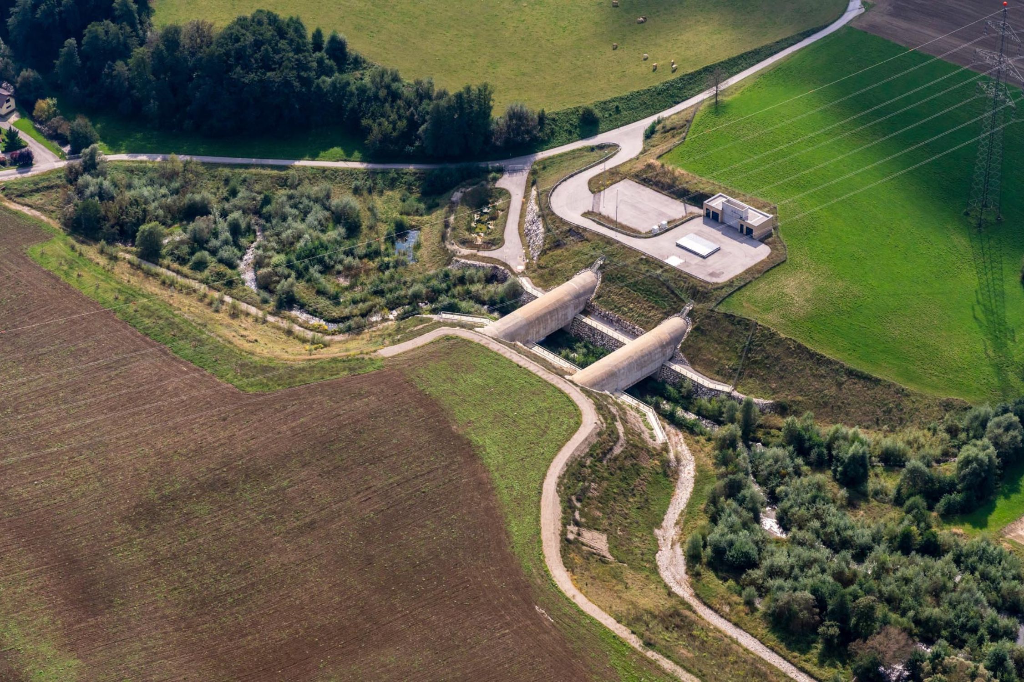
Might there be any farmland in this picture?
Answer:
Yes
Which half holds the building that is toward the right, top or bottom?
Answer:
top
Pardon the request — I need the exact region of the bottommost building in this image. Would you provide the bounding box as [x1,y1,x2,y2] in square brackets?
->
[703,193,772,240]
